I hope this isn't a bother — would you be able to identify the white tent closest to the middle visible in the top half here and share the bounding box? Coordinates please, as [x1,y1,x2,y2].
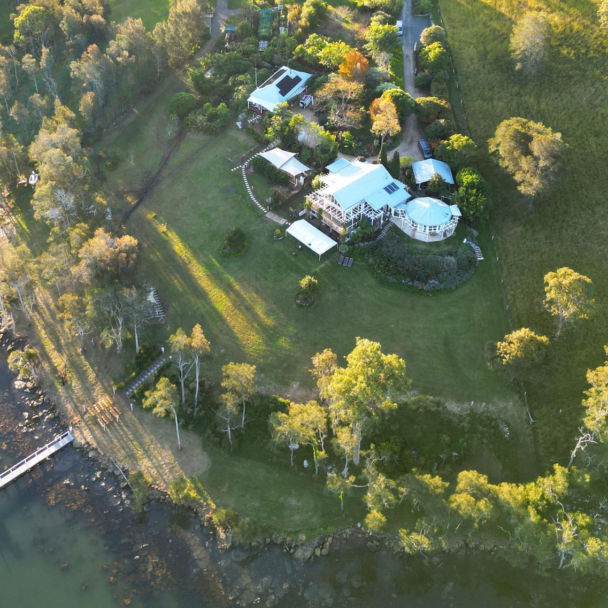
[284,221,338,264]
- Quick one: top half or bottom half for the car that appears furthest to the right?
top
